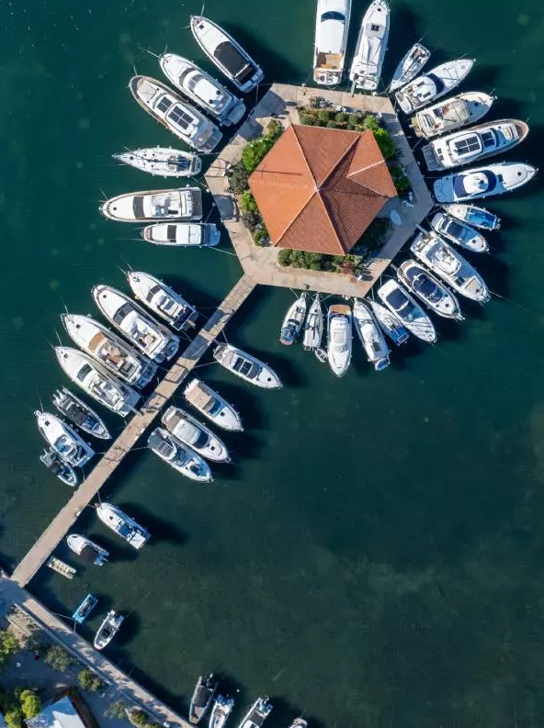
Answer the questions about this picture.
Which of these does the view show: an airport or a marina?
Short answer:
marina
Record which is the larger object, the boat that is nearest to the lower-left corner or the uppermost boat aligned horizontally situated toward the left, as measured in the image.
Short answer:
the uppermost boat aligned horizontally situated toward the left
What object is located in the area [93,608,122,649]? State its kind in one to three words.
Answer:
boat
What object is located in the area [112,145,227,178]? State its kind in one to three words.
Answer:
boat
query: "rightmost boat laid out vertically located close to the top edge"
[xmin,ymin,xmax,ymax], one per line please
[346,0,391,100]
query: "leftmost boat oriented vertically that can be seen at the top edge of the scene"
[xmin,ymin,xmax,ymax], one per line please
[309,0,353,94]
